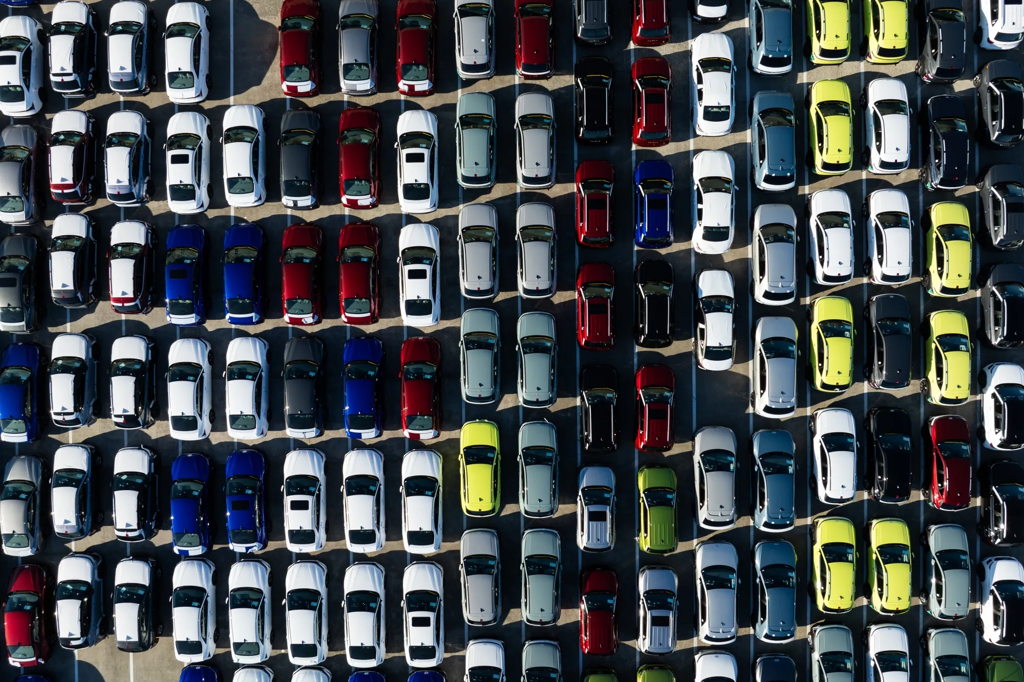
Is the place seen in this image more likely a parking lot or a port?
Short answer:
parking lot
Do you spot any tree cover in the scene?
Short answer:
No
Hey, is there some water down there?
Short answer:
No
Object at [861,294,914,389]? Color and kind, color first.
black car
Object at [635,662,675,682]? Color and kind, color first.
green car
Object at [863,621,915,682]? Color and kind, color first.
white car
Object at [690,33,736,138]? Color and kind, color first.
white car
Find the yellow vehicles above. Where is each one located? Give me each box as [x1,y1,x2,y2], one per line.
[863,518,915,614]
[806,297,856,392]
[808,517,859,613]
[859,0,912,66]
[805,79,856,175]
[803,0,854,66]
[459,421,502,516]
[920,310,974,405]
[921,201,975,296]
